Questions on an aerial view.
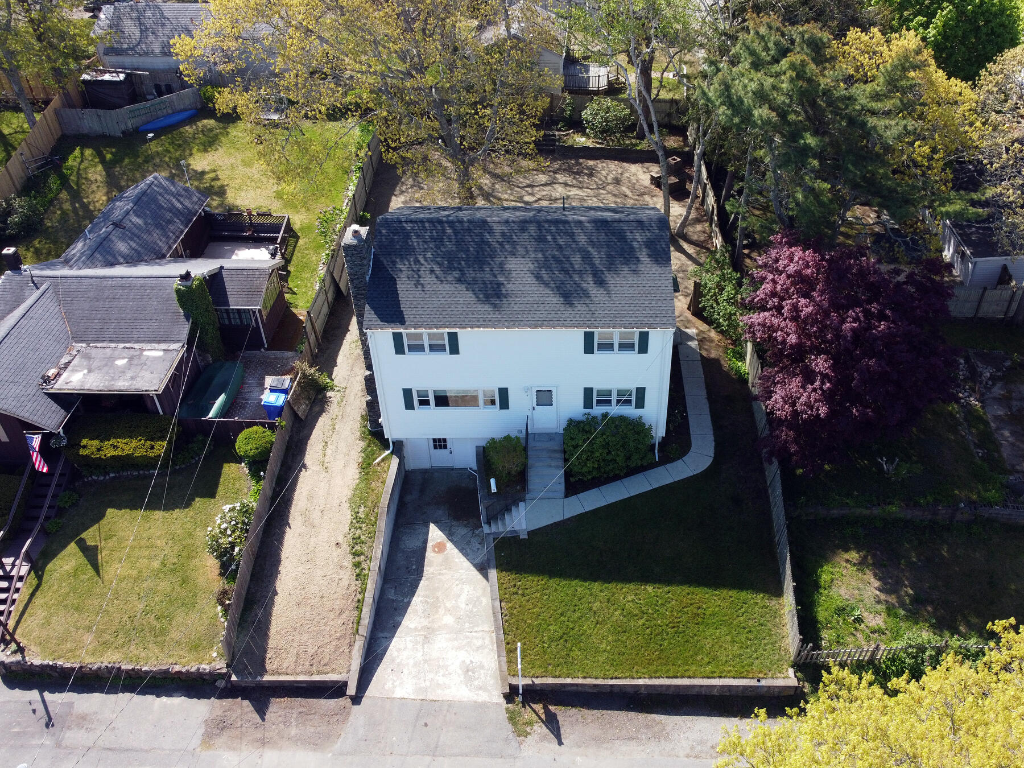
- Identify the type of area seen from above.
residential area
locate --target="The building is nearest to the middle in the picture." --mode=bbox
[338,207,678,468]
